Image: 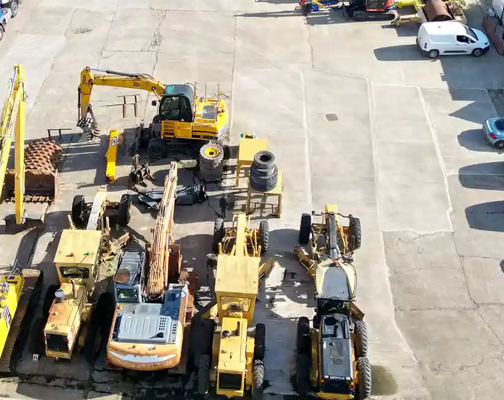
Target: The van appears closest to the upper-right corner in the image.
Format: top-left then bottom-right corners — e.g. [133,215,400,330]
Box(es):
[416,20,494,57]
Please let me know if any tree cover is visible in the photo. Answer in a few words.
No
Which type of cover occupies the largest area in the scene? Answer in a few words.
paved ground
